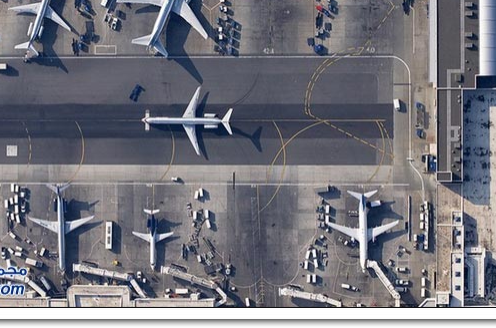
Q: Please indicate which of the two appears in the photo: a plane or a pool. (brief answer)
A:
plane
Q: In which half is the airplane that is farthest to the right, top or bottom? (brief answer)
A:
bottom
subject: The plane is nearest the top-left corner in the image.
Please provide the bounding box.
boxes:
[7,0,70,55]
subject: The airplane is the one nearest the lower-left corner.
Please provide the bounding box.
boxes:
[27,183,93,270]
